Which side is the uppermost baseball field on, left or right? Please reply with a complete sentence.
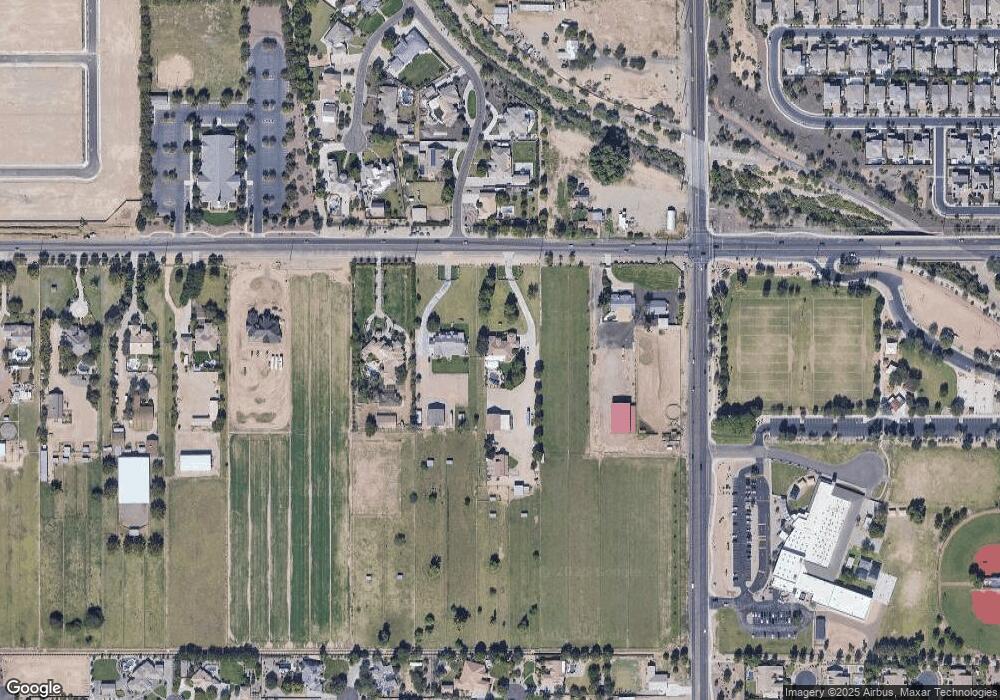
You can find the uppermost baseball field on the left side of the picture.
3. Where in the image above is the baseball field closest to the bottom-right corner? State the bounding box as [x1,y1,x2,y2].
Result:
[941,586,1000,656]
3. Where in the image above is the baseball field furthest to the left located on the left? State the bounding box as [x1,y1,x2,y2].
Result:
[158,55,193,88]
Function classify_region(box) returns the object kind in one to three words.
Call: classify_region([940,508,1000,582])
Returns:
baseball field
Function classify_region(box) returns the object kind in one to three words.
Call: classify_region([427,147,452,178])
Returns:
house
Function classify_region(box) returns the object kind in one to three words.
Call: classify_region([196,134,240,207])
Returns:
building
